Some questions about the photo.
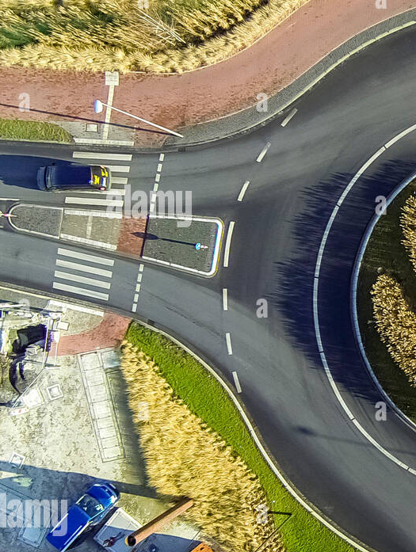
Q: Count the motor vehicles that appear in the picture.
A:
two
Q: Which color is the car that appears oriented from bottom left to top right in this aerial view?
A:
blue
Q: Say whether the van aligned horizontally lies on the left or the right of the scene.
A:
left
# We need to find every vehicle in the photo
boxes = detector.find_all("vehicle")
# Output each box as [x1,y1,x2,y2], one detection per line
[49,481,124,549]
[39,160,113,194]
